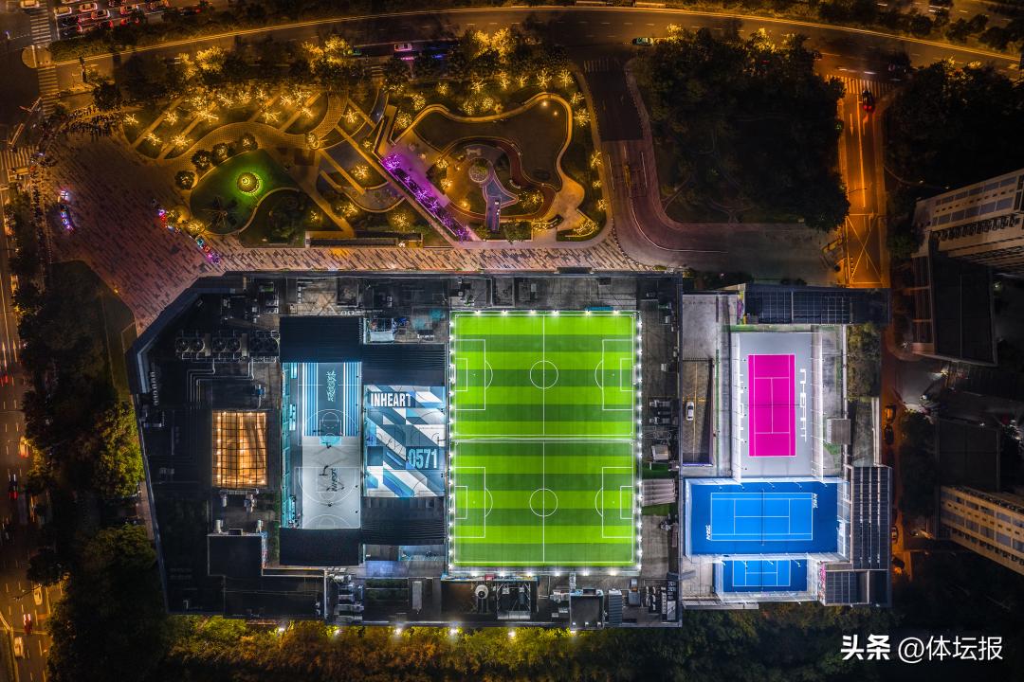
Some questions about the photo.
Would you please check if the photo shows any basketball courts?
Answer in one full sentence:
Yes, the image includes a basketball court.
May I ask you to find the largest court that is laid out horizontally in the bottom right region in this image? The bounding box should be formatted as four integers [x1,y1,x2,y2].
[690,483,839,556]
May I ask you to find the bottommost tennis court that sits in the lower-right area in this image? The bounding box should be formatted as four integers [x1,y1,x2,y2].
[721,555,808,594]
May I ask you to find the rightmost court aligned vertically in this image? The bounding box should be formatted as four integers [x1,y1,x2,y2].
[740,332,813,479]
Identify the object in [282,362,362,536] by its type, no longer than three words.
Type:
basketball court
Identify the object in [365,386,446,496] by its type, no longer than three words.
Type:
basketball court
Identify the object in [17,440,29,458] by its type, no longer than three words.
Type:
vehicle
